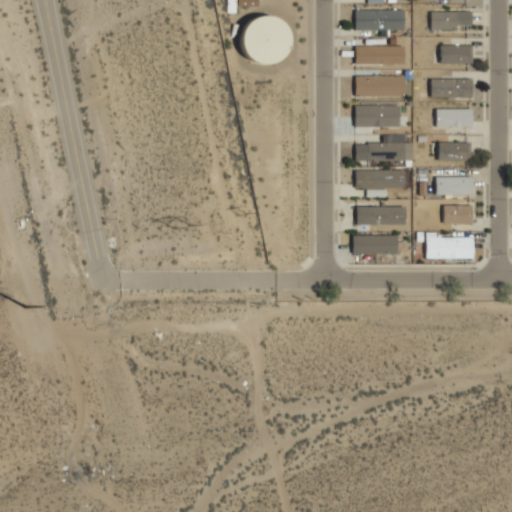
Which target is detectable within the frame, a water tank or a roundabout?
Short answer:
water tank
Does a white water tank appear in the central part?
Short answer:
No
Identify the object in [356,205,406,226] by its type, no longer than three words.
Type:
house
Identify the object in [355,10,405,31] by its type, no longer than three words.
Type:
house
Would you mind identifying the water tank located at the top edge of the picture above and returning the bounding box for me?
[240,14,293,66]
